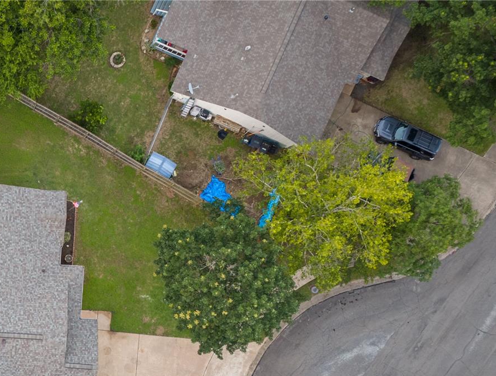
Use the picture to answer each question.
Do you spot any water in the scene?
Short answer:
No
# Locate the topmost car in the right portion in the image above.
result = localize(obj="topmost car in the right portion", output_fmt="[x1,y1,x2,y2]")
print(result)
[373,115,444,160]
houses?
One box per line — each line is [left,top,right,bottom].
[151,0,410,158]
[0,186,98,376]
